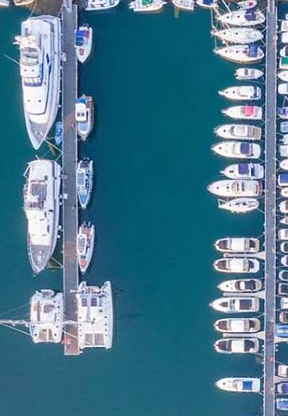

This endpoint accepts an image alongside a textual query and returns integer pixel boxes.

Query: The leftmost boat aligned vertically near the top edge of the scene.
[18,0,63,152]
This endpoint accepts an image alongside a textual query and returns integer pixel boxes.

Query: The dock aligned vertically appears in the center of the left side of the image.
[62,4,80,356]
